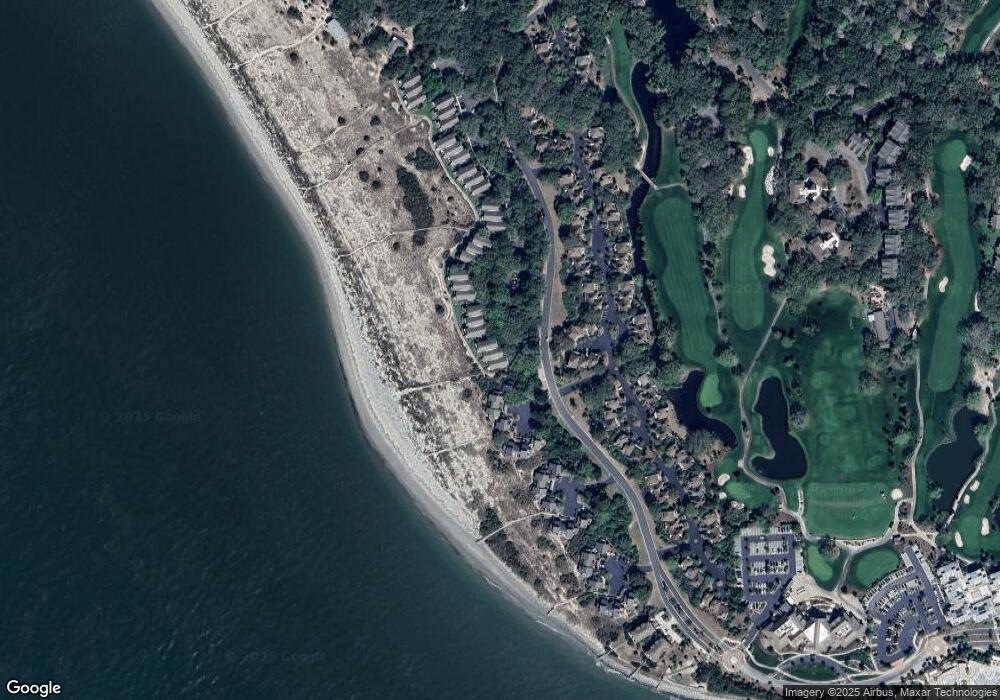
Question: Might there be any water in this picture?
Yes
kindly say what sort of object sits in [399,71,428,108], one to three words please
house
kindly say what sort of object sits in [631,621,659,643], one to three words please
building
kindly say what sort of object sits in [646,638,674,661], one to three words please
building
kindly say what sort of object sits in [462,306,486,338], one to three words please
house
